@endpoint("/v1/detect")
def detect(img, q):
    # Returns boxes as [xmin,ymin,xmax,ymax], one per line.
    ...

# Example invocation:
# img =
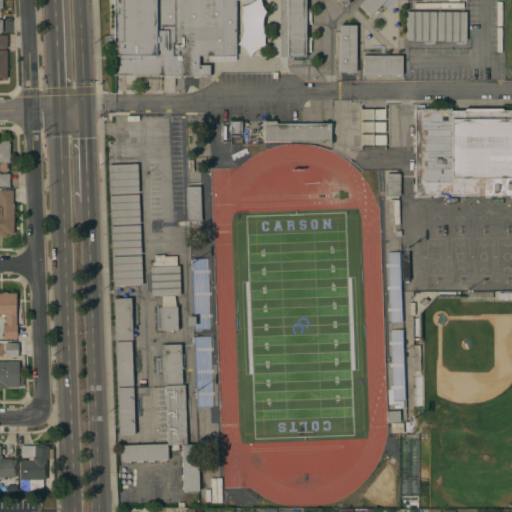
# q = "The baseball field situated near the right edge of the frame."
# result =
[414,296,512,508]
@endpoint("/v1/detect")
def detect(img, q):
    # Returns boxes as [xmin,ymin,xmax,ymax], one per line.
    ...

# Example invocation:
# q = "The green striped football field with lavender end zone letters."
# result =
[232,210,368,443]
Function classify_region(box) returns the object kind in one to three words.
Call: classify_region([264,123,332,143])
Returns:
building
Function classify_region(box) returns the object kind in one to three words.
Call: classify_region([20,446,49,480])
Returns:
house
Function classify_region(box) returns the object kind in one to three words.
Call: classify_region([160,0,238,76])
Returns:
building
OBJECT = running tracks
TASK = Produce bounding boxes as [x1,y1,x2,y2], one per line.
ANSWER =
[212,144,388,506]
